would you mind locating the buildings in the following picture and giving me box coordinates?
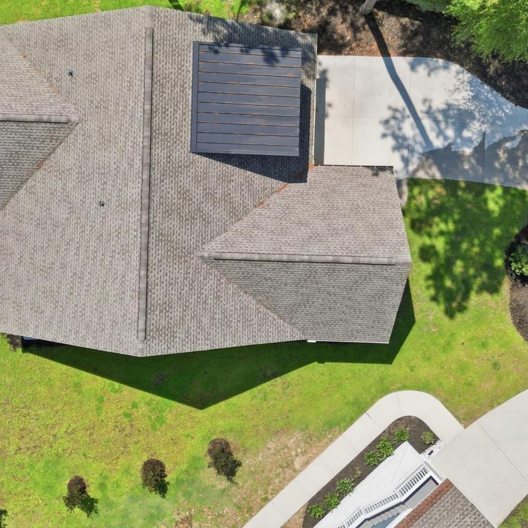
[314,441,490,528]
[0,5,411,357]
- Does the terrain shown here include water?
No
